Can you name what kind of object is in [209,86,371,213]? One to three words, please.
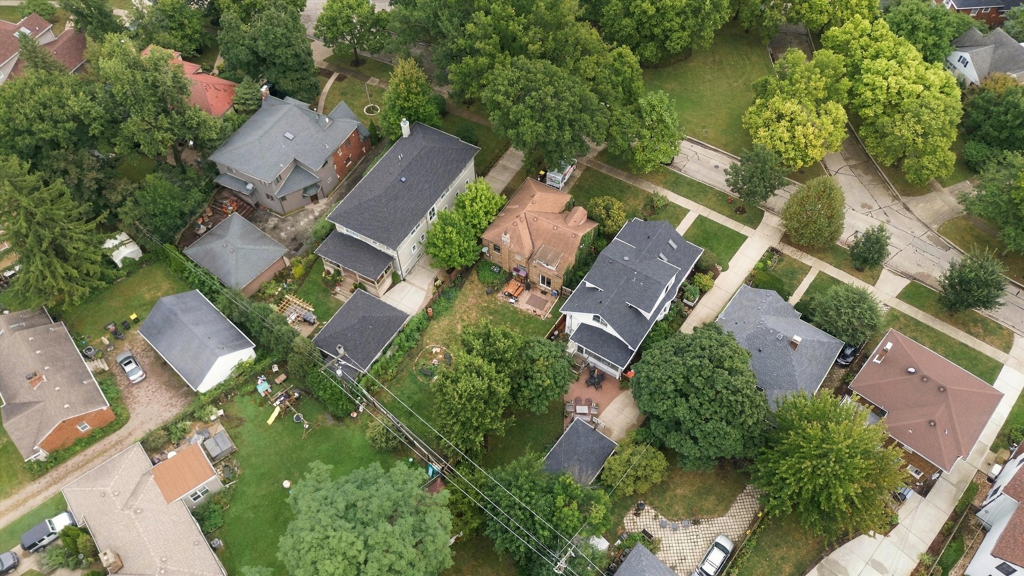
house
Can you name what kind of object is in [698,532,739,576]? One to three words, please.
car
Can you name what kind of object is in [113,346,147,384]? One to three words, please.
car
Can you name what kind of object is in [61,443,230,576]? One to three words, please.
house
